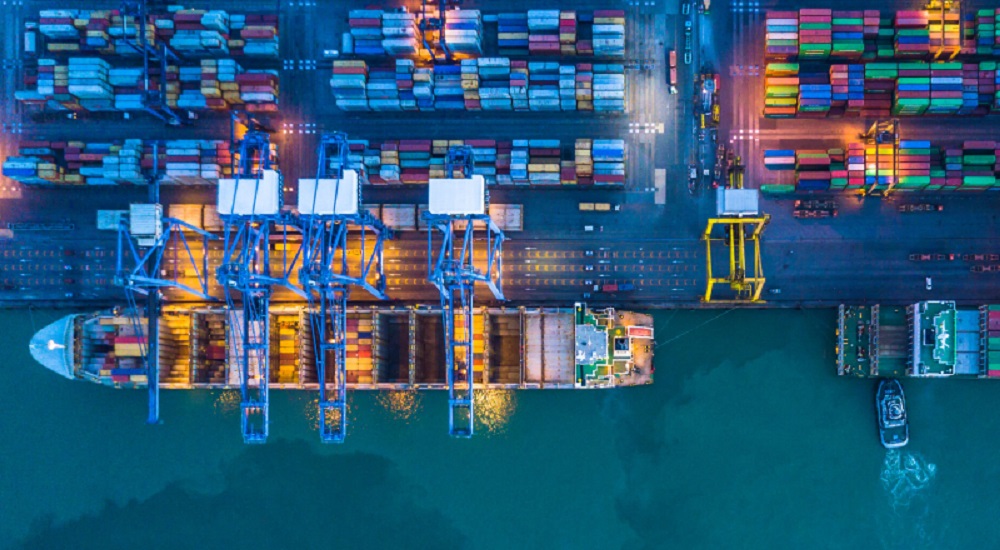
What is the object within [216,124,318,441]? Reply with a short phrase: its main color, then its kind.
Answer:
blue container crane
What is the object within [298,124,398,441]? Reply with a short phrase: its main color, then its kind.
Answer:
blue container crane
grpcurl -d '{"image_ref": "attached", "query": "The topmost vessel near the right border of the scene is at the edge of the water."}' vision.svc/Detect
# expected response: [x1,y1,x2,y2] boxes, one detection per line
[835,301,987,380]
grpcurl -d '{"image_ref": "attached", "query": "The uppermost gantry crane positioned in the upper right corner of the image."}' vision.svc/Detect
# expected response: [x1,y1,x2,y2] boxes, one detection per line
[926,0,965,62]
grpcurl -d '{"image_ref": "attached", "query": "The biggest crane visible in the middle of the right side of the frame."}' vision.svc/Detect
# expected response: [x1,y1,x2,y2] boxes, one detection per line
[696,172,774,309]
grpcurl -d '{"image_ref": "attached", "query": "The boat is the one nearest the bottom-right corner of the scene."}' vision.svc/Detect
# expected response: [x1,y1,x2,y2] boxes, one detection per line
[874,380,909,447]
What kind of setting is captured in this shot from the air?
port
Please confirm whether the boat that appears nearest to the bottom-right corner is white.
No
